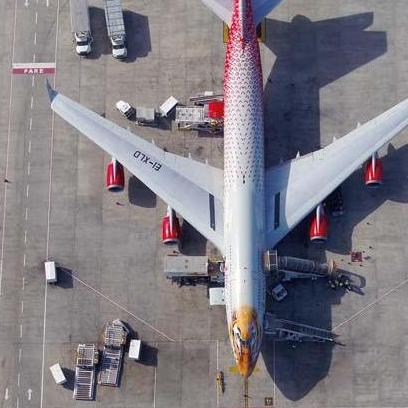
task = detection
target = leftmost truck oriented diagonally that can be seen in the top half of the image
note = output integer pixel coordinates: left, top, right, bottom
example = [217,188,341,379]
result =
[116,99,138,122]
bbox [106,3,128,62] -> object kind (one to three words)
truck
